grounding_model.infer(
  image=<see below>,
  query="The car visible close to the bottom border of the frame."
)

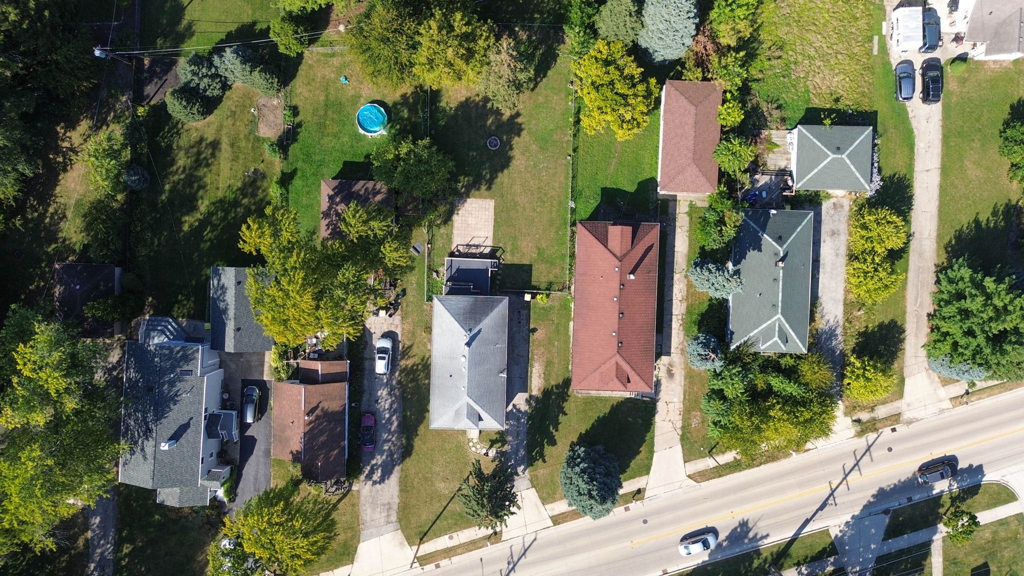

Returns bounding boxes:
[677,532,718,557]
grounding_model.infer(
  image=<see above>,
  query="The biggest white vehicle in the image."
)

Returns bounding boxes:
[892,5,924,61]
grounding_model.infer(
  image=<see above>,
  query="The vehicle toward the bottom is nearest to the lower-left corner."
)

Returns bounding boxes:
[241,385,261,425]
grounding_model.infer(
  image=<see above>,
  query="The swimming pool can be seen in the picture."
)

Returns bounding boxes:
[355,102,389,135]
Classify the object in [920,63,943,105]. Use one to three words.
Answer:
car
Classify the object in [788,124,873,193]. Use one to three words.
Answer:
building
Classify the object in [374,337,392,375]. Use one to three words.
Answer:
car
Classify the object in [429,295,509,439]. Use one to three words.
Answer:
house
